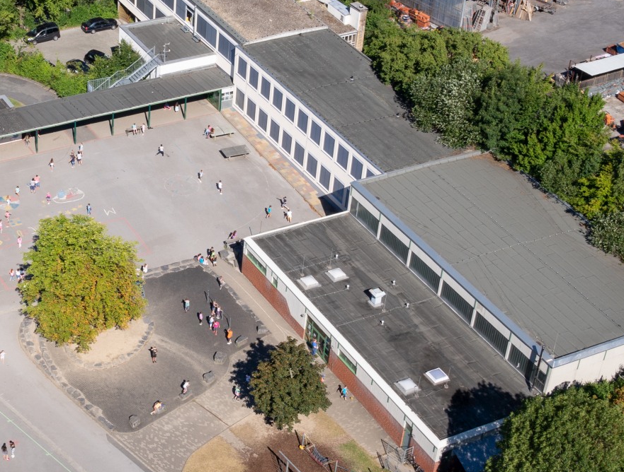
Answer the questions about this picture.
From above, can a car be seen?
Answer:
Yes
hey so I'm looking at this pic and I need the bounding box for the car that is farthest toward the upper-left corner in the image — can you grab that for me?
[23,21,64,44]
